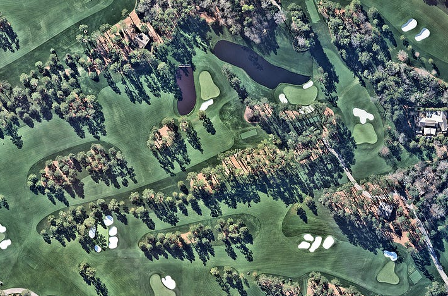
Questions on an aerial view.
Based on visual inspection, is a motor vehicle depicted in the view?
No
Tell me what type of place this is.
golf course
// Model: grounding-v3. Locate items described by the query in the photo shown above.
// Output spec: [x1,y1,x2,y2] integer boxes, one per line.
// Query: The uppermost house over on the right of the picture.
[416,110,448,135]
